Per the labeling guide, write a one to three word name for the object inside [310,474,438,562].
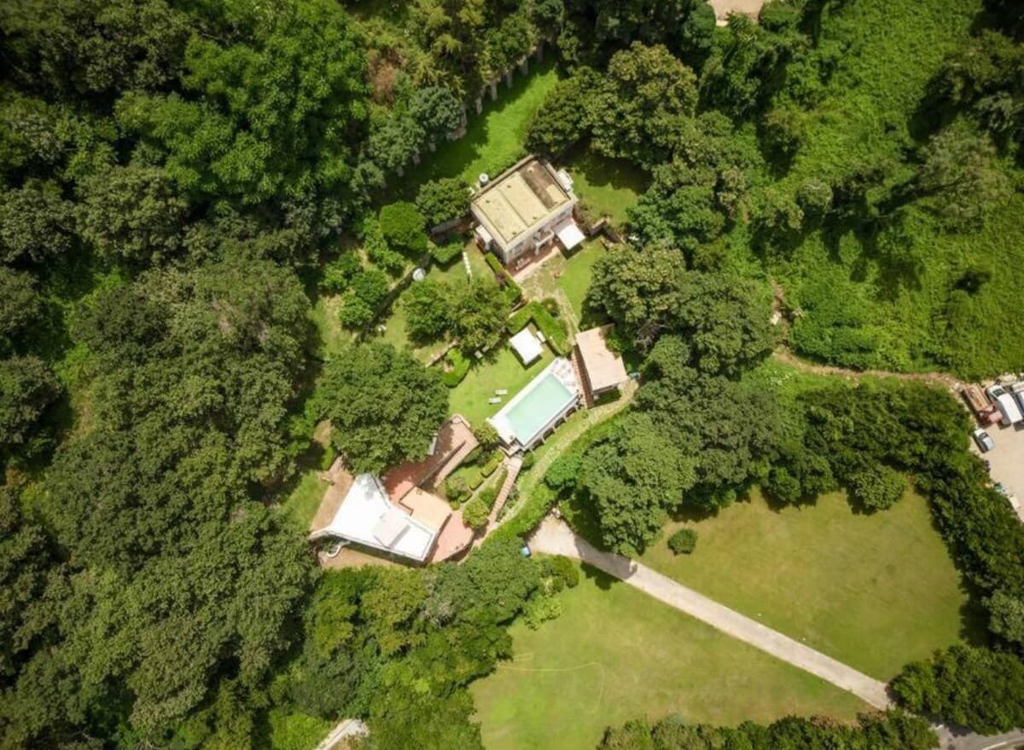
house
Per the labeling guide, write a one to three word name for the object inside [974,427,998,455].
car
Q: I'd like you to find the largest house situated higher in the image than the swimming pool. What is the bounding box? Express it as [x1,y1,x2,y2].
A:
[472,156,572,262]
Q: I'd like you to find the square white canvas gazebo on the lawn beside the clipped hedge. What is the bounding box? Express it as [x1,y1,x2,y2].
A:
[510,328,543,367]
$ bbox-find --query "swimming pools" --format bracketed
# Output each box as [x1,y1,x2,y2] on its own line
[487,359,580,456]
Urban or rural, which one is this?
rural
